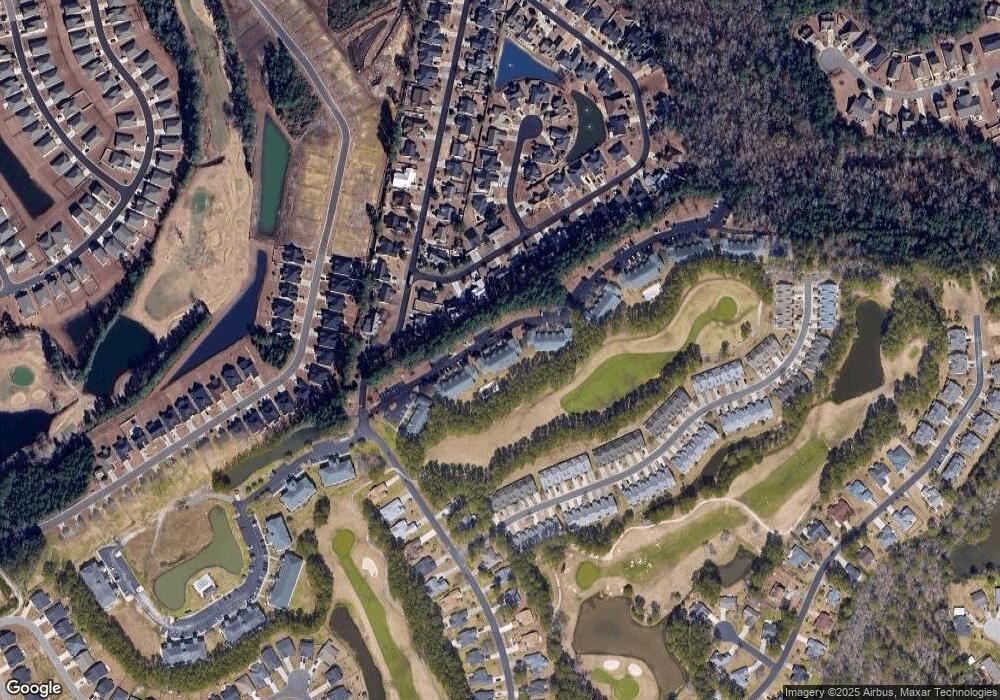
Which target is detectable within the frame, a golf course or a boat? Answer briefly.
golf course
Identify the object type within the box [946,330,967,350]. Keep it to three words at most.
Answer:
house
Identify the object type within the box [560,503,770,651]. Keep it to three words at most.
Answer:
golf course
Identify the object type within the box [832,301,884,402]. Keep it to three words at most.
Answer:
pond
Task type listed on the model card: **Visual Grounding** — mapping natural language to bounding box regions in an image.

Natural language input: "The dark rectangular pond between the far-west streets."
[0,135,54,217]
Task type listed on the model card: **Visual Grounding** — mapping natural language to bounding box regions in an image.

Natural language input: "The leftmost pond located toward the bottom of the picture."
[0,411,53,464]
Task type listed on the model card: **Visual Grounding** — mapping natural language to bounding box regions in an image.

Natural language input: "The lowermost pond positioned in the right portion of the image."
[574,597,688,700]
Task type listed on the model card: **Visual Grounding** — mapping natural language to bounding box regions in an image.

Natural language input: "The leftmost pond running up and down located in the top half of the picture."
[259,112,288,233]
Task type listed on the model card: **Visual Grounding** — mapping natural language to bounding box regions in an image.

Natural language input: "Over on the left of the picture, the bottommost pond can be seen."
[331,605,384,700]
